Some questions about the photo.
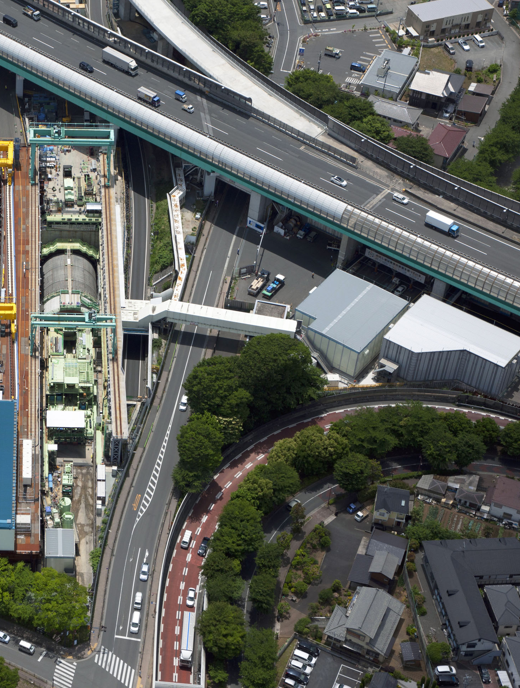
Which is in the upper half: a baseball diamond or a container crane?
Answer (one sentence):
There is a container crane in the upper half.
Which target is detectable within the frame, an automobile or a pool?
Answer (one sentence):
There is an automobile in the scene.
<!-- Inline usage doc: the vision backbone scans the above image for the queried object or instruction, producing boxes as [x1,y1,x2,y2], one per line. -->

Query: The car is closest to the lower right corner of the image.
[477,666,492,686]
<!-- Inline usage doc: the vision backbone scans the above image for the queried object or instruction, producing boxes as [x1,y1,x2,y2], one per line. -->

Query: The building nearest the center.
[254,301,287,318]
